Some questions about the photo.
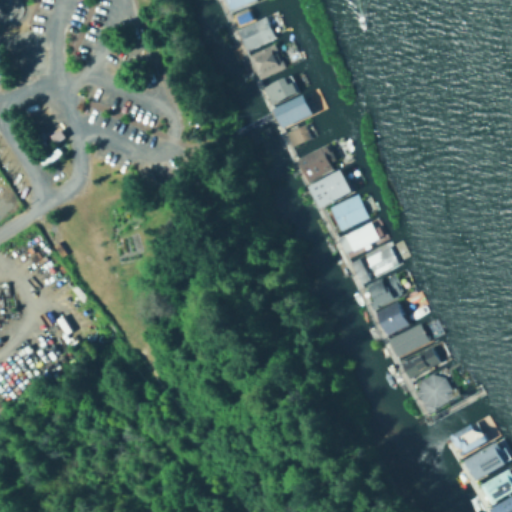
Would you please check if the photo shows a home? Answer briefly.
Yes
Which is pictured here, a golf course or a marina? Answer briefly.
marina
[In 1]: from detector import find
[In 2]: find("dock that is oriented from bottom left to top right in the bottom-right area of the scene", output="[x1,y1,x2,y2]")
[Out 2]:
[426,390,486,428]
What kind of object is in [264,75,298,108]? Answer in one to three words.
house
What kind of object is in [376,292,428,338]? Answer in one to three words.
house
